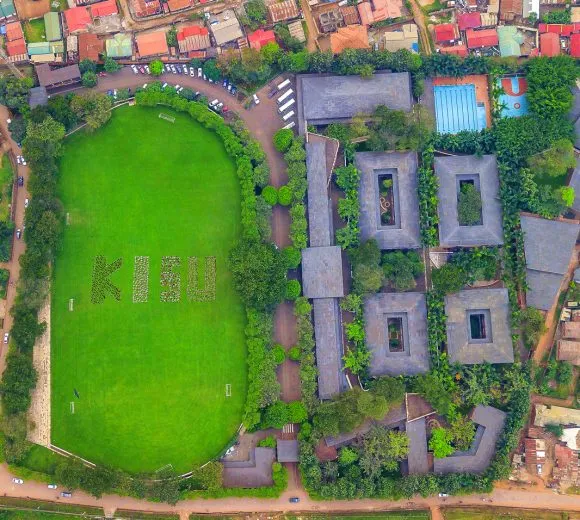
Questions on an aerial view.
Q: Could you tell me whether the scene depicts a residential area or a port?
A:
residential area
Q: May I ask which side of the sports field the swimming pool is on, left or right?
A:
right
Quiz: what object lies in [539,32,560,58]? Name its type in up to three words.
house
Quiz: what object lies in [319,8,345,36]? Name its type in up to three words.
house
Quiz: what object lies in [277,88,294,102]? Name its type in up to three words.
vehicle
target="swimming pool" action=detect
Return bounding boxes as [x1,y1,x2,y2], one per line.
[432,74,490,137]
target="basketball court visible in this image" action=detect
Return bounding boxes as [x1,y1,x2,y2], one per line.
[497,75,534,119]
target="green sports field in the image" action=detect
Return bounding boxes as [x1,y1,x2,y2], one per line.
[49,100,253,481]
